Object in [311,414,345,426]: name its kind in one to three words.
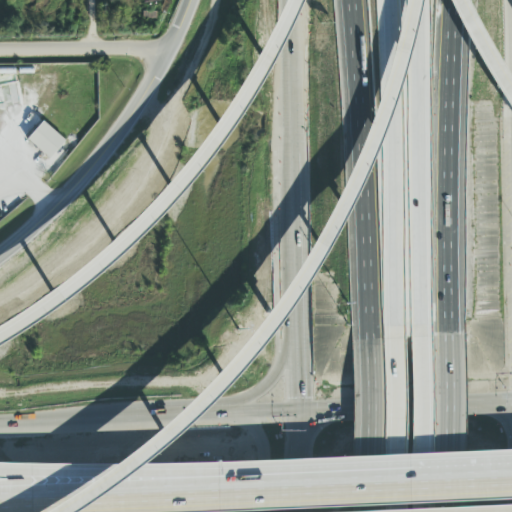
vehicle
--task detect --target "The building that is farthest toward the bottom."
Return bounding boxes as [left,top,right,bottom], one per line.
[28,120,66,158]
